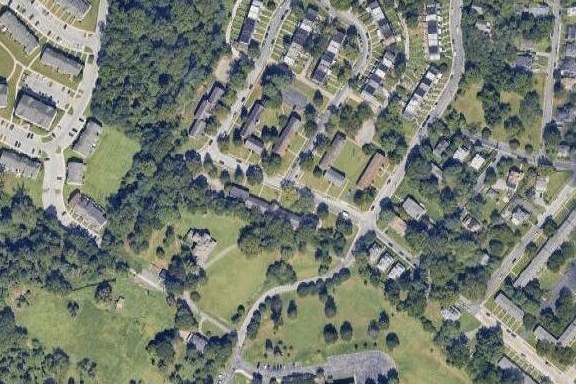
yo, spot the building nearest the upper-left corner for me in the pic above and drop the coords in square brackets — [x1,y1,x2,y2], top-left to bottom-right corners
[0,10,41,56]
